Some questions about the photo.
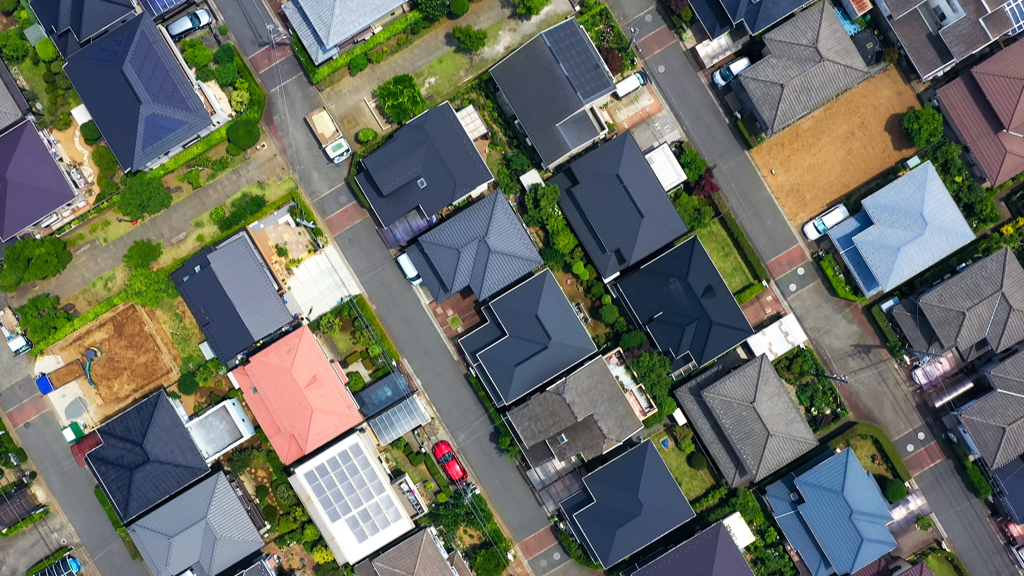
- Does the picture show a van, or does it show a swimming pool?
van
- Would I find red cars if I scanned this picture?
Yes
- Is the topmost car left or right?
left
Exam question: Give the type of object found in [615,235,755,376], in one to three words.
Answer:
house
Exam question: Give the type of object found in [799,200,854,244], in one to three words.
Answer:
car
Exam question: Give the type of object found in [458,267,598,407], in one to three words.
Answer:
house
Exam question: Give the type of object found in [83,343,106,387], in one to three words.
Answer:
work vehicle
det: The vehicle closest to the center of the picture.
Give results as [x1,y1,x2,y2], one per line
[392,249,424,288]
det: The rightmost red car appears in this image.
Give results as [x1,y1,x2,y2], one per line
[430,436,470,487]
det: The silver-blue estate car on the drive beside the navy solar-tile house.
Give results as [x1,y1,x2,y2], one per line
[165,6,217,39]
